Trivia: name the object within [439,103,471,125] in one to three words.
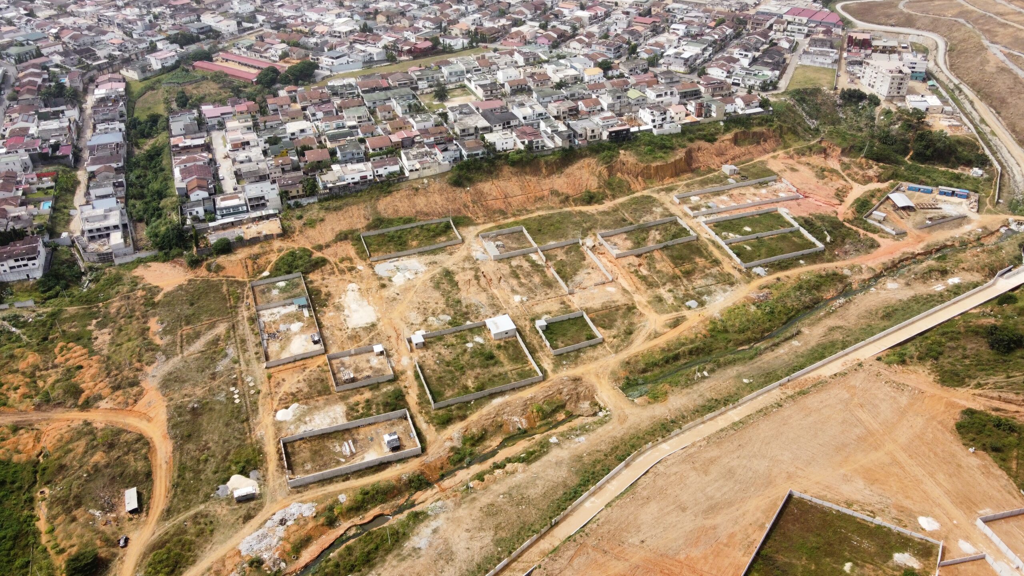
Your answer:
house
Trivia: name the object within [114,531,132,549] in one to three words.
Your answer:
car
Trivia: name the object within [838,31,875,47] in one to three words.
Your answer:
house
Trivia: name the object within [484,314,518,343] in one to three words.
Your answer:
shed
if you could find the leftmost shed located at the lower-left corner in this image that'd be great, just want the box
[125,486,140,518]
